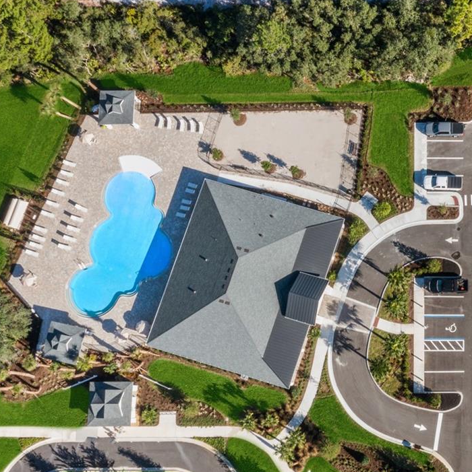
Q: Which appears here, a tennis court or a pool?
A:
pool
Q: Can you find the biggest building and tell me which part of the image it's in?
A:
center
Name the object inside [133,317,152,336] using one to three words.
umbrella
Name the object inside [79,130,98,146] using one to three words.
umbrella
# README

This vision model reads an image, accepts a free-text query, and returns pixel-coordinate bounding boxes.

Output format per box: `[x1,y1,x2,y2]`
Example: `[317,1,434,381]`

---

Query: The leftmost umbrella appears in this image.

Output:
[22,271,41,290]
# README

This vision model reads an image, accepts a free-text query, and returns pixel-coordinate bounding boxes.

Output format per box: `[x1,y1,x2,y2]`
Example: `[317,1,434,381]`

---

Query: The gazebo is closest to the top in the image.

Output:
[97,90,142,130]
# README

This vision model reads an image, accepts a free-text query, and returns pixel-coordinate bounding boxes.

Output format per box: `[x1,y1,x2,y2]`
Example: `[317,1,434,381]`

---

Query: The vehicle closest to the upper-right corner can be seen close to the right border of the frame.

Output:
[425,120,466,137]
